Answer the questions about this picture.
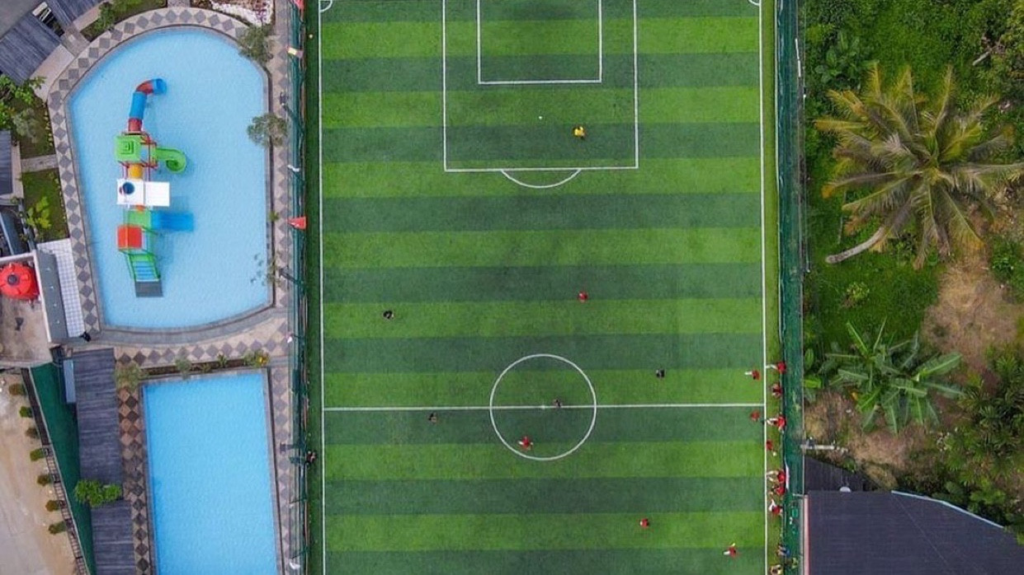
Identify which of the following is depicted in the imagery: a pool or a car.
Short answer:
pool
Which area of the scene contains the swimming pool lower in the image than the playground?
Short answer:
bottom left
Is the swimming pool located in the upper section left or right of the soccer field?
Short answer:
to its left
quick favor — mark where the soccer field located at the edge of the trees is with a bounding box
[305,0,782,575]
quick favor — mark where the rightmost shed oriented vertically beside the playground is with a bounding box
[73,349,125,504]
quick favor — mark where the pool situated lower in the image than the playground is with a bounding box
[141,369,282,575]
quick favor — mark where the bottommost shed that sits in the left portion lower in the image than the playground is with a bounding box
[91,502,137,575]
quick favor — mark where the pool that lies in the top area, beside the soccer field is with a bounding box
[64,25,274,334]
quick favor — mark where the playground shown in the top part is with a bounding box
[116,75,194,297]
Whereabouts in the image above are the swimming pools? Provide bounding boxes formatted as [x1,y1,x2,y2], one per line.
[141,369,282,575]
[64,25,274,334]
